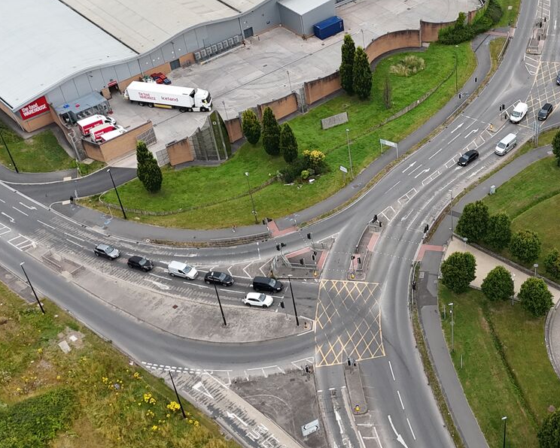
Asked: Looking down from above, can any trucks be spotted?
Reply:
Yes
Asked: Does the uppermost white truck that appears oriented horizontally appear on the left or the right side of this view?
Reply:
left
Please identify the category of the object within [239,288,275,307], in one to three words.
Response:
car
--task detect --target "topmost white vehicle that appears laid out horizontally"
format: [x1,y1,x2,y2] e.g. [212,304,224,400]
[121,75,216,113]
